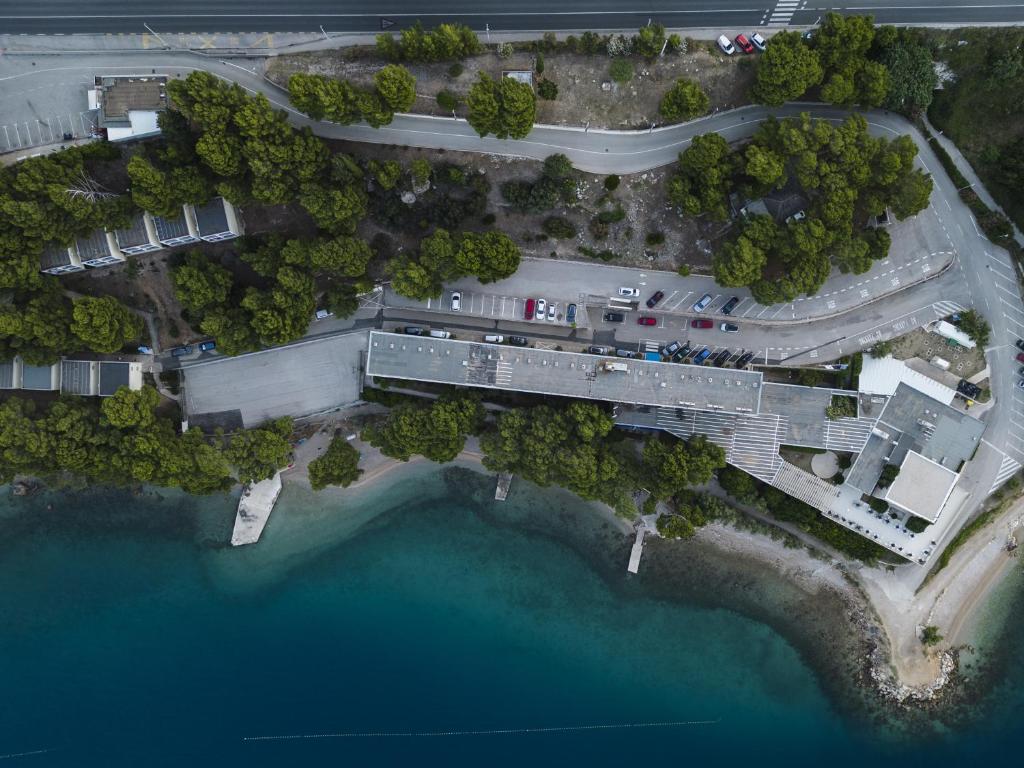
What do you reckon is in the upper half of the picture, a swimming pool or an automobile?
automobile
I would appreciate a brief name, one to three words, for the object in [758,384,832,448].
building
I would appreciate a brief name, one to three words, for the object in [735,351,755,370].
car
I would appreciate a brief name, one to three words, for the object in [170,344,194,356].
vehicle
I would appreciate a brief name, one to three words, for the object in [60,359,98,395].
house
